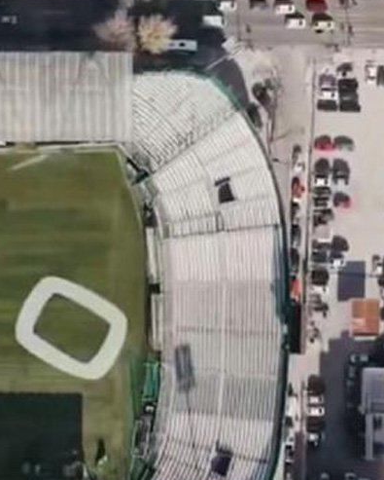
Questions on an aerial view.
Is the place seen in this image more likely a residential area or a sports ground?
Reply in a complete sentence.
This looks like a sports ground.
